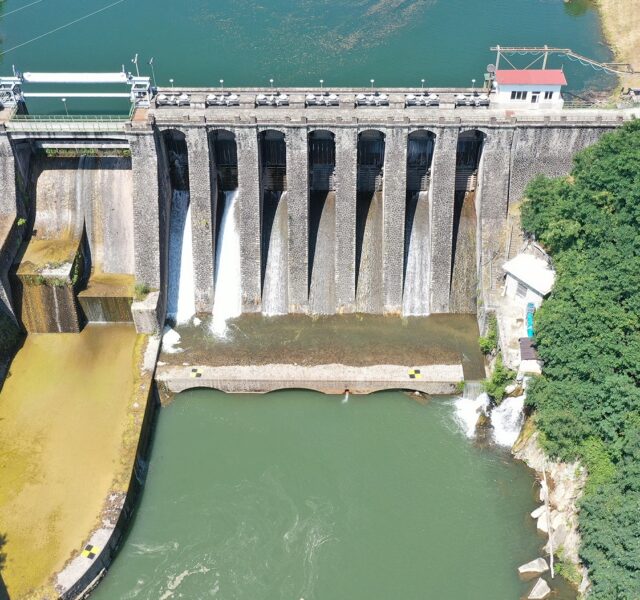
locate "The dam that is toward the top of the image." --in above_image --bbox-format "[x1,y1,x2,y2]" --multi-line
[0,88,639,336]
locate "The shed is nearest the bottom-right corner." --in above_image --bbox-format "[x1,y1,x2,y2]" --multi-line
[514,338,548,377]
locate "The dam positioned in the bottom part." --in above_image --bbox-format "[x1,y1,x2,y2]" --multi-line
[152,366,465,396]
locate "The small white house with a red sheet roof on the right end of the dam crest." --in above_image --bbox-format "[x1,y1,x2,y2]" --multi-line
[492,63,569,108]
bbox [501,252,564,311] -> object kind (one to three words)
shed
